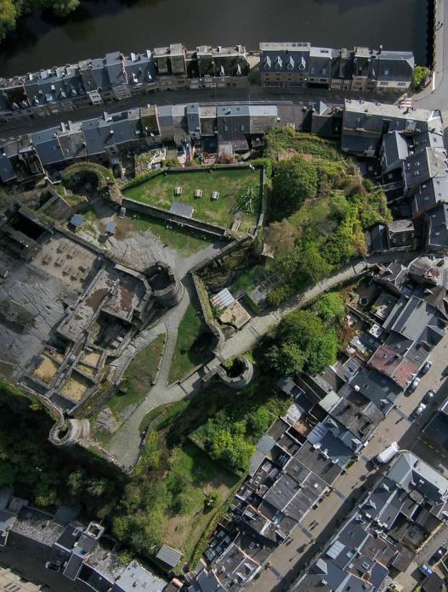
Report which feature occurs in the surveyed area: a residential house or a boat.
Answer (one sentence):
Looking from above, you can make out a residential house.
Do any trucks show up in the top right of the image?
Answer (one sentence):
No, I see no truck in the top right of the image.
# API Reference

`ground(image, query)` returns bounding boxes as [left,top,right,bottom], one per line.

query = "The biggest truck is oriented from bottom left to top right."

[372,440,397,469]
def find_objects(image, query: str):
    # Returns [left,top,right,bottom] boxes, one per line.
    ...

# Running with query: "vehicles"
[412,401,427,418]
[372,440,397,469]
[423,386,437,404]
[420,359,434,377]
[407,374,422,393]
[429,546,446,566]
[418,564,431,575]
